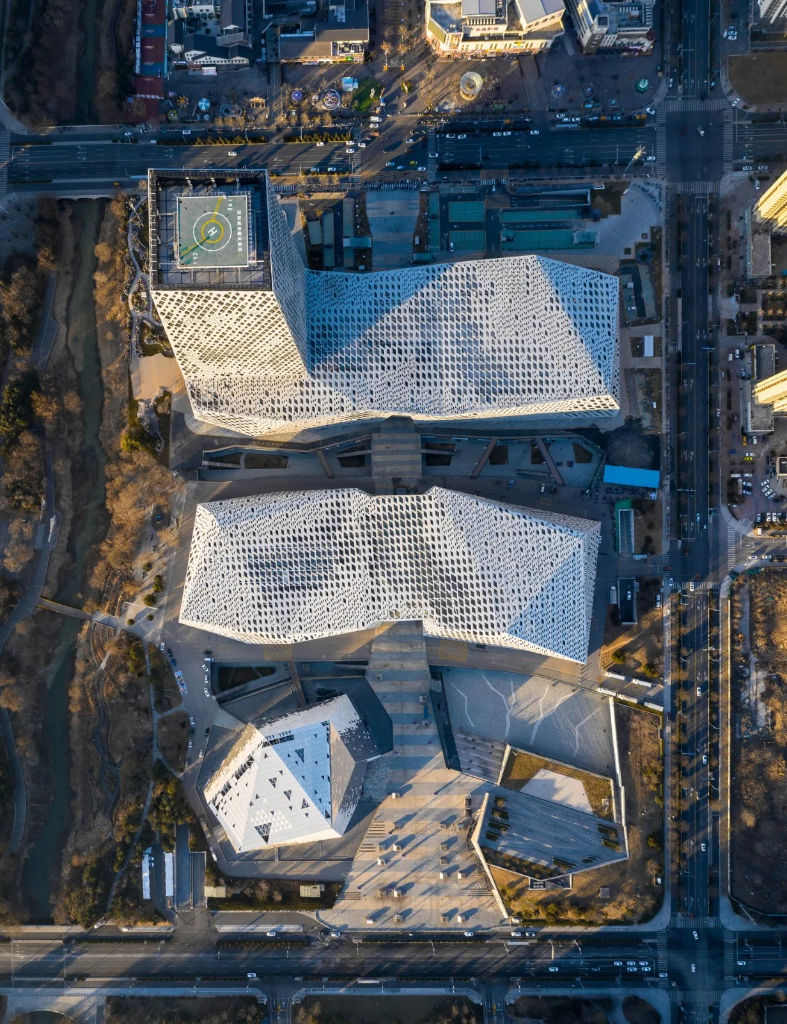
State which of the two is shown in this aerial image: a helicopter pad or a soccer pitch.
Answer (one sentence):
This aerial view contains a helicopter pad.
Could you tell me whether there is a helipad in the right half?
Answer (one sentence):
No, I can find no helipad in the right half.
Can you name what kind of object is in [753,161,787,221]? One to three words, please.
building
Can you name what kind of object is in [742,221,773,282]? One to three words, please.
building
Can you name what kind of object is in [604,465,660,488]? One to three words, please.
shed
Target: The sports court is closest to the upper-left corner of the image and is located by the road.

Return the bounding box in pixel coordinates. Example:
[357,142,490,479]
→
[123,0,164,123]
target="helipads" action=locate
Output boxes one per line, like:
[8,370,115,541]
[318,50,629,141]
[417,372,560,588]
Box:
[173,191,253,272]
